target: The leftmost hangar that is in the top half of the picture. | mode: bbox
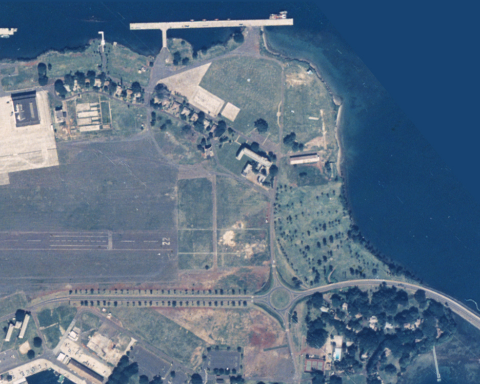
[11,92,40,127]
